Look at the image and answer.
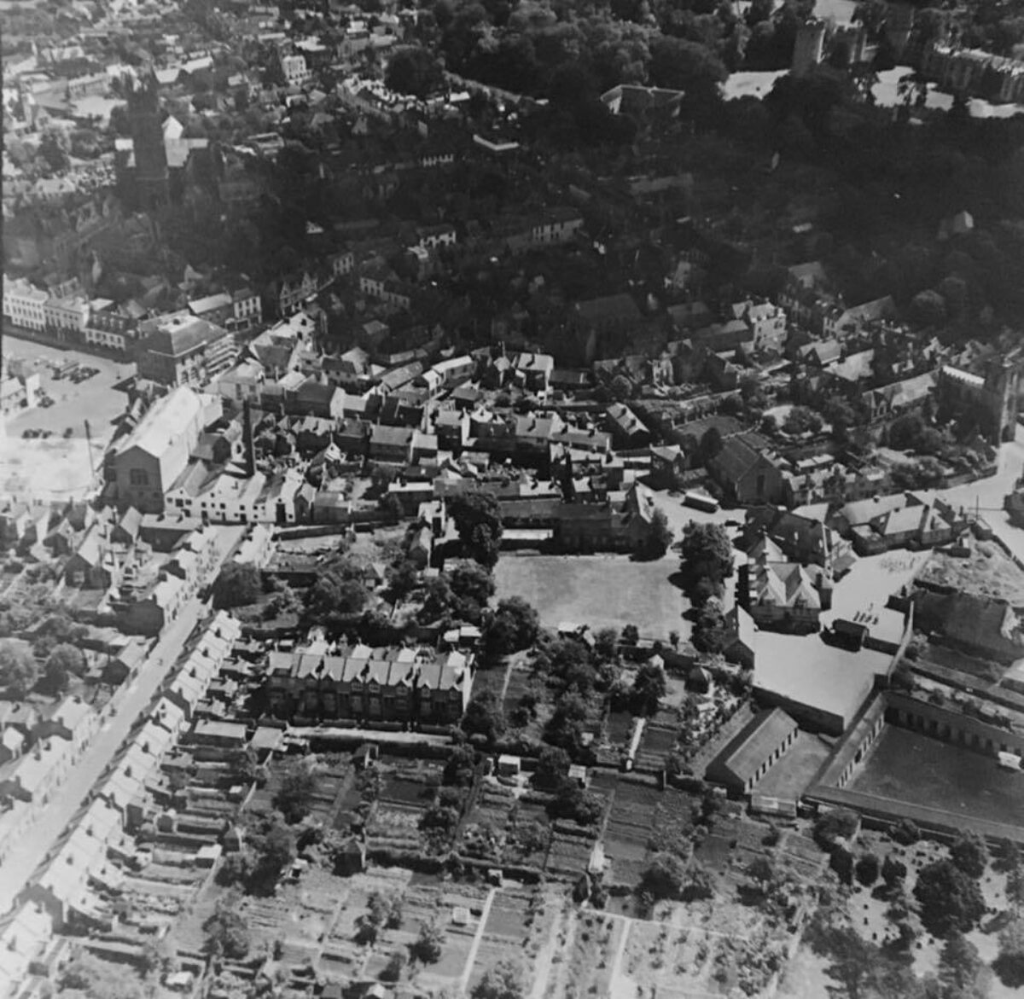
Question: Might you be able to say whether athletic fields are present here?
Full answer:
Yes, the image includes an athletic field.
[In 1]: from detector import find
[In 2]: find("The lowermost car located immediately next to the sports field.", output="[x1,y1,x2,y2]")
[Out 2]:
[666,539,686,551]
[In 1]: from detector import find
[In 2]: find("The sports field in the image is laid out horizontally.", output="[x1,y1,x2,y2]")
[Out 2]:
[492,552,692,640]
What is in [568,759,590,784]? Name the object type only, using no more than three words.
greenhouse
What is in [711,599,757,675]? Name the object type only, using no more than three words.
shed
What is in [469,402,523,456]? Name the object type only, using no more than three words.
house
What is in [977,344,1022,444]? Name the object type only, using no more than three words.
building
